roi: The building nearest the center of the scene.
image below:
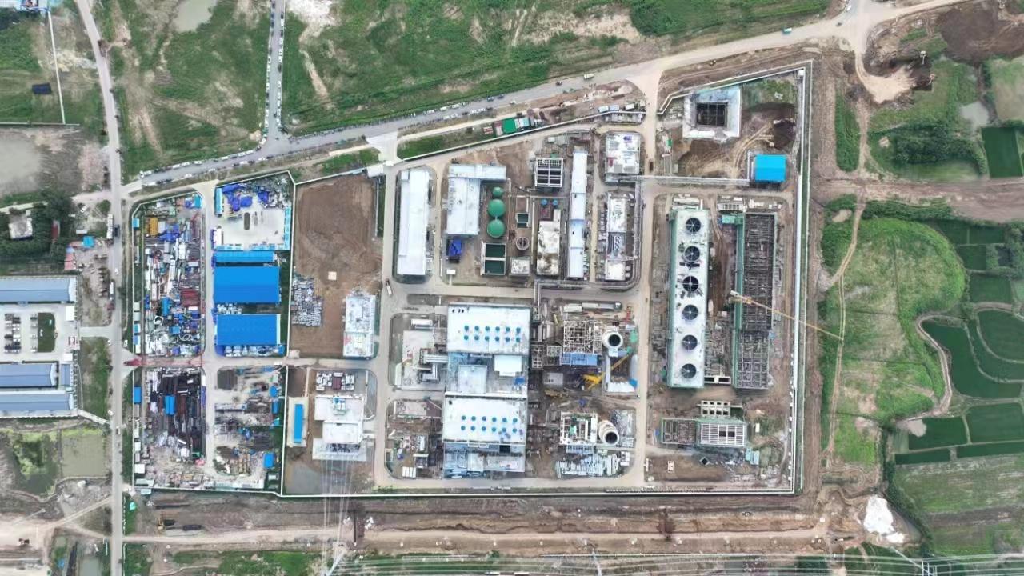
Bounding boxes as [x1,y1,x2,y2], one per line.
[511,258,530,274]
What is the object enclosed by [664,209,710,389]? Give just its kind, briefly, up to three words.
cooling tower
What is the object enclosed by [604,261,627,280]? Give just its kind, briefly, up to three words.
building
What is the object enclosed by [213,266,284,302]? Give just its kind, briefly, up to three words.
shed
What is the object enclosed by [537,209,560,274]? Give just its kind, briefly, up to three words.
building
